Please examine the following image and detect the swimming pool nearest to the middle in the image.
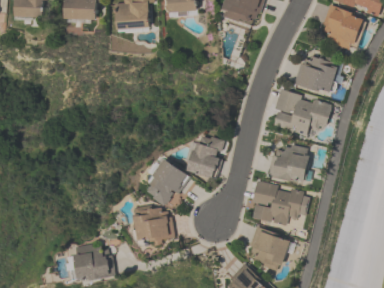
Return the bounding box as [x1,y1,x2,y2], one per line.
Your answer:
[172,146,190,160]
